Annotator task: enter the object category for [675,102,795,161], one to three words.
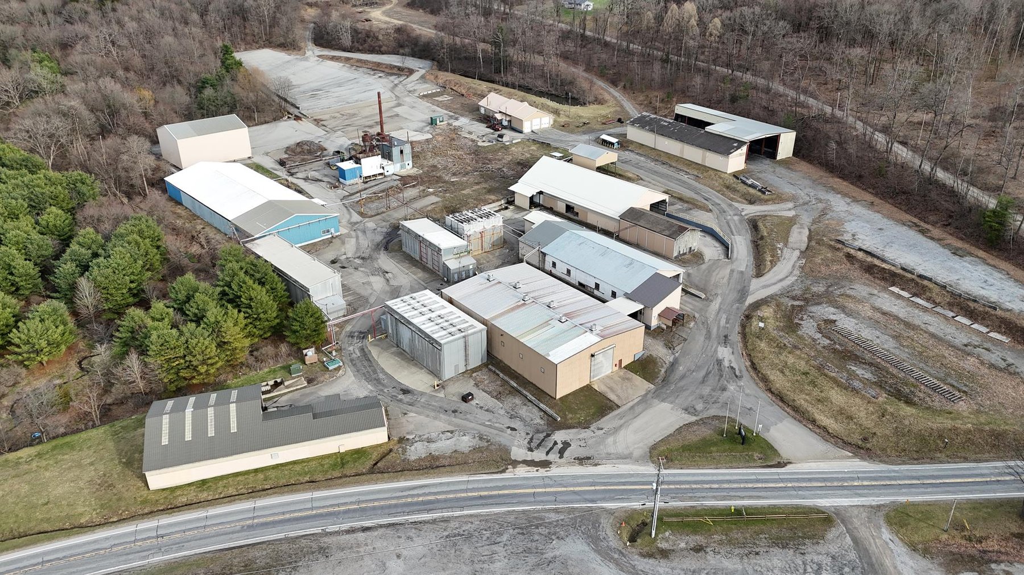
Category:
barn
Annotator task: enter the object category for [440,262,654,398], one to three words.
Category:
warehouse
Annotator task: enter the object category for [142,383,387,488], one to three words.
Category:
building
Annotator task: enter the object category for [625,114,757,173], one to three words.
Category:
shed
